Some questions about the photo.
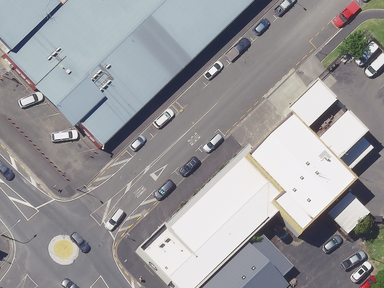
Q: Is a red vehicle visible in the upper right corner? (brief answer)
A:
Yes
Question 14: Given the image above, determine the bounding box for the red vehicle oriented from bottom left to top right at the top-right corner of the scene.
[334,2,360,26]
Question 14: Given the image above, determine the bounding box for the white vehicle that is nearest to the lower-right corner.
[350,261,372,282]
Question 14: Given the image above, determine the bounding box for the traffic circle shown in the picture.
[48,233,79,264]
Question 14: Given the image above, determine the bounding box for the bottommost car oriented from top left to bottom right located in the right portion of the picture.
[271,222,293,244]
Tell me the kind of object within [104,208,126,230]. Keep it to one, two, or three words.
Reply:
car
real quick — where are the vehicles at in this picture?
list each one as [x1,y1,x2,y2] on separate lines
[334,2,360,26]
[364,54,384,76]
[272,0,296,16]
[271,222,293,244]
[225,38,250,62]
[18,92,43,108]
[340,250,366,270]
[178,155,200,177]
[358,274,374,288]
[154,178,176,200]
[70,230,91,253]
[322,232,344,253]
[350,261,372,282]
[62,278,80,288]
[104,208,126,230]
[0,158,15,180]
[202,130,224,152]
[355,42,378,64]
[51,130,77,142]
[128,133,148,152]
[152,107,174,128]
